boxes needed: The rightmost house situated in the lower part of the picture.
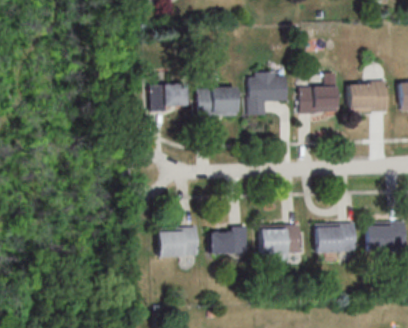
[366,221,407,252]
